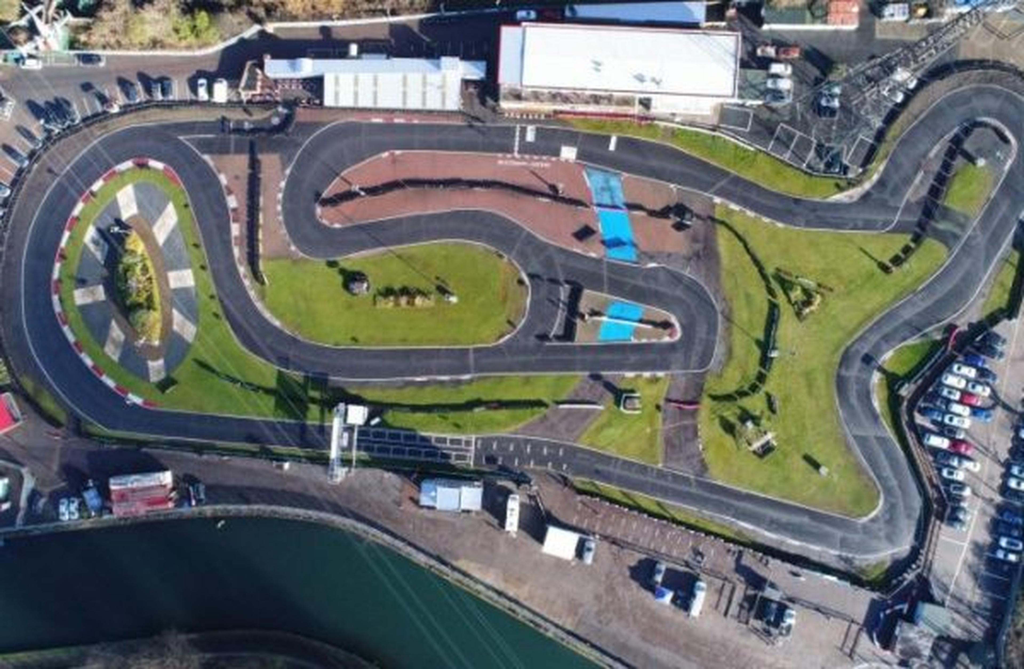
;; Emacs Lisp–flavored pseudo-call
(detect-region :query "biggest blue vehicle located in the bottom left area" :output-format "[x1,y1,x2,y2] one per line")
[74,480,101,520]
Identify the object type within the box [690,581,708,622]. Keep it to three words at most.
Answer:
vehicle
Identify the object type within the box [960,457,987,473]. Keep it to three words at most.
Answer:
car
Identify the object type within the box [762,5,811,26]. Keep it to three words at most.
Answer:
shed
